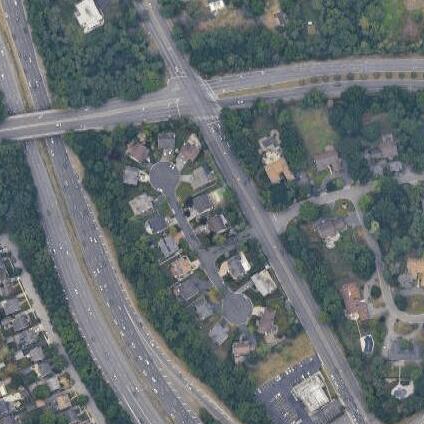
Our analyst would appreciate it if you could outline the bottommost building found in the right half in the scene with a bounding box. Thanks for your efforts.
[291,372,329,415]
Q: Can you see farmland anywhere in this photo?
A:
No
